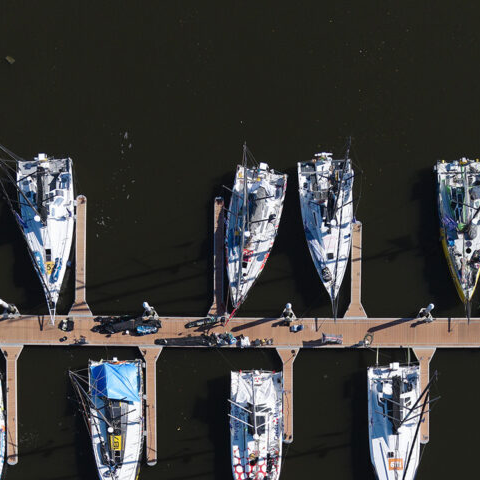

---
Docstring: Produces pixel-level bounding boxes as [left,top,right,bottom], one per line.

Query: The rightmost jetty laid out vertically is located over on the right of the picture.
[411,348,435,443]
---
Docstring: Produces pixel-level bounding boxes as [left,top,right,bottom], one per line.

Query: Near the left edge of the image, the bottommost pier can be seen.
[0,346,23,465]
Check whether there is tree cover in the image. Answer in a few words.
No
